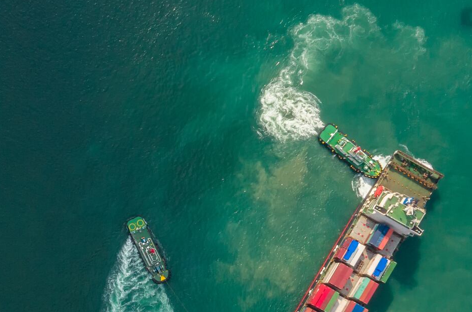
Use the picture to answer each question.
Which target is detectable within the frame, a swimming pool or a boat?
boat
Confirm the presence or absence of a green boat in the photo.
Yes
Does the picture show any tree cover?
No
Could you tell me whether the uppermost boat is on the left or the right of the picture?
right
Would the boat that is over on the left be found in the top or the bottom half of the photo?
bottom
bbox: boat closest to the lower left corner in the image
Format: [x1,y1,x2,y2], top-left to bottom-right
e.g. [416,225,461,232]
[125,217,168,285]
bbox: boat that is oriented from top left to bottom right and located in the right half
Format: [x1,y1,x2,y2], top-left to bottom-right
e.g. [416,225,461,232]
[313,123,384,177]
